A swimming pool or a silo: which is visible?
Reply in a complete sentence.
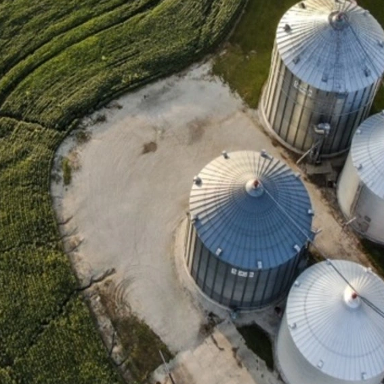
The one in the frame is a silo.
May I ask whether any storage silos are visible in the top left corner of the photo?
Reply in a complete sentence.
No, looking in the top left corner of the photo, there is no storage silo.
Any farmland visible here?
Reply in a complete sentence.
Yes, some farmland is visible.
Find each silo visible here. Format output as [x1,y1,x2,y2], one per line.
[178,149,316,313]
[272,259,384,384]
[335,110,384,245]
[260,0,384,157]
